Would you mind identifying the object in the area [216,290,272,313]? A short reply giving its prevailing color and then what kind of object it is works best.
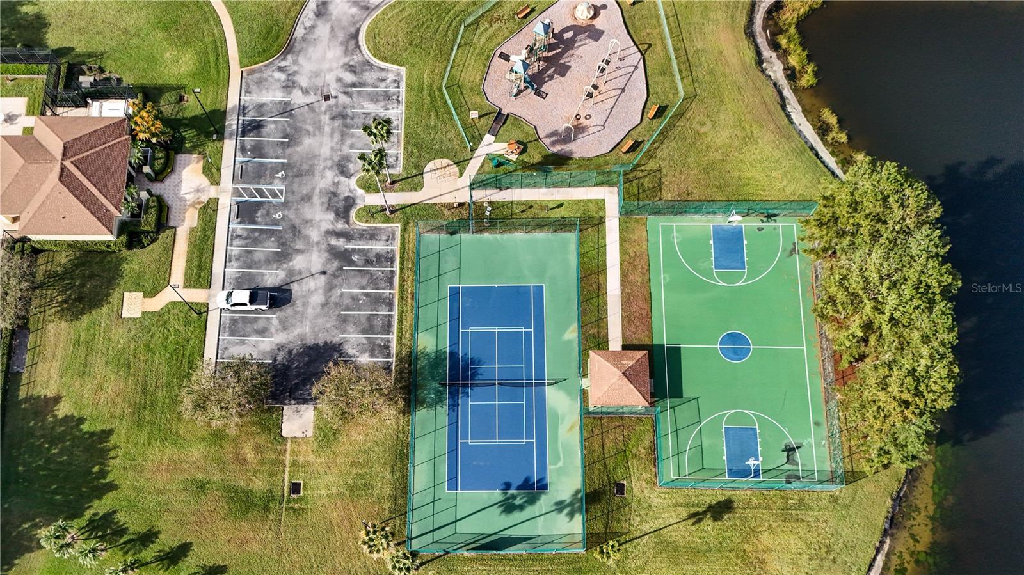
white truck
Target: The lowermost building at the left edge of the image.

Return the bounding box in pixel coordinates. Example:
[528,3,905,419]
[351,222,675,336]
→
[0,116,134,241]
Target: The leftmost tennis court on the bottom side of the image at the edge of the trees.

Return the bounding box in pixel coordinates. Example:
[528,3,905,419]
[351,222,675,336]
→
[409,232,585,552]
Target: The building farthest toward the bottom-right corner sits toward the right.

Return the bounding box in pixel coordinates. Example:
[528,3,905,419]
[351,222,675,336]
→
[588,350,650,413]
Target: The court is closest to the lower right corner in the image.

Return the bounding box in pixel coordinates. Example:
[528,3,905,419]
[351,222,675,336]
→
[647,216,831,489]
